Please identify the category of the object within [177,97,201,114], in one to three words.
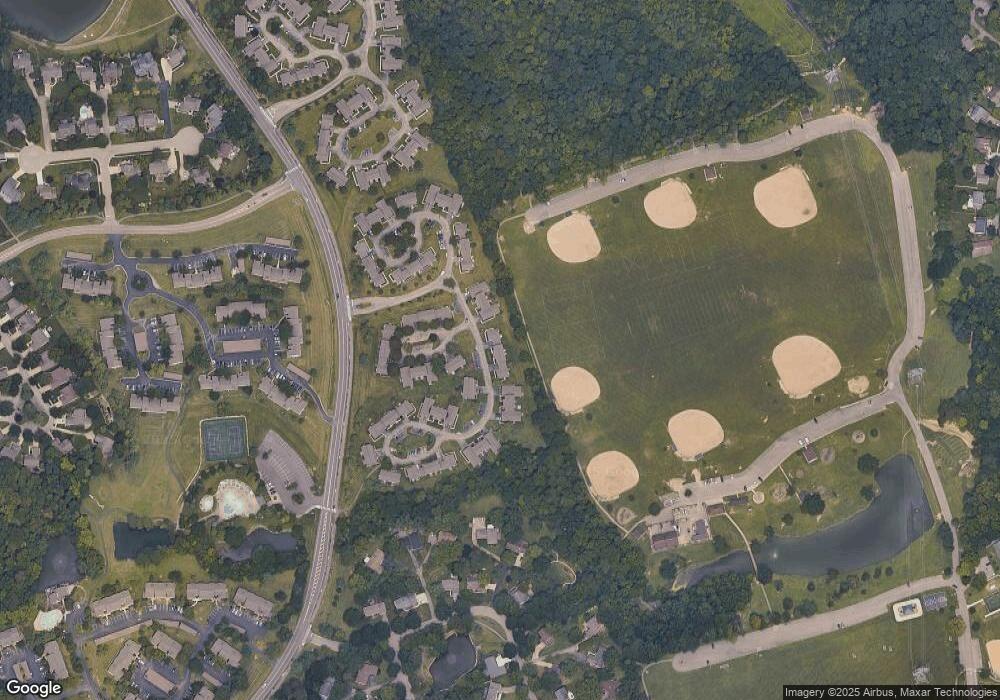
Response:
house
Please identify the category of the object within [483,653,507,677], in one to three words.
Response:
house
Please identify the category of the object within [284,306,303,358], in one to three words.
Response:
building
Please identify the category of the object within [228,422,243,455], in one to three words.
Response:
tennis court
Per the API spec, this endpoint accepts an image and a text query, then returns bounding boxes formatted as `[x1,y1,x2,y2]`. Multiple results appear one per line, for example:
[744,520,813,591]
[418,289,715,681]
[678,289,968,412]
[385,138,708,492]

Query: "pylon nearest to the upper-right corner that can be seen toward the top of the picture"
[824,68,845,87]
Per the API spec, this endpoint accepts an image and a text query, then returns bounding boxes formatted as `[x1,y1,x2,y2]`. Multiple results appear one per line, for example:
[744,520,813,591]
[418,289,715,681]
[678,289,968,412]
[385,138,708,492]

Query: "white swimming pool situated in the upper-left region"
[79,105,94,120]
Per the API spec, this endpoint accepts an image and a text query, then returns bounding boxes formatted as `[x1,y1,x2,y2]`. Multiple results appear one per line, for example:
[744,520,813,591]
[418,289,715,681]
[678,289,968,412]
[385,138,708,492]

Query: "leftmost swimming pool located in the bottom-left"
[34,610,62,632]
